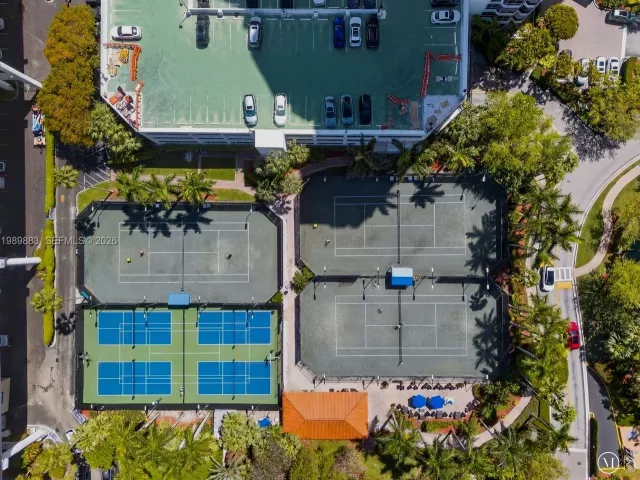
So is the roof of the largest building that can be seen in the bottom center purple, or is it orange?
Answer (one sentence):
The color of the roof of the largest building that can be seen in the bottom center is orange.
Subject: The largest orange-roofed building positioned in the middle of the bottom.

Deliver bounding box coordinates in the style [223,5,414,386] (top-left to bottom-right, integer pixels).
[282,388,368,439]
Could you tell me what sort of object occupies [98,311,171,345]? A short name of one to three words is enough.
sports court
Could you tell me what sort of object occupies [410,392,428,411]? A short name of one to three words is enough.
umbrella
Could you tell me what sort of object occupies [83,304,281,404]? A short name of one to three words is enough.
tennis court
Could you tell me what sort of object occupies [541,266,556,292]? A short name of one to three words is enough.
car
